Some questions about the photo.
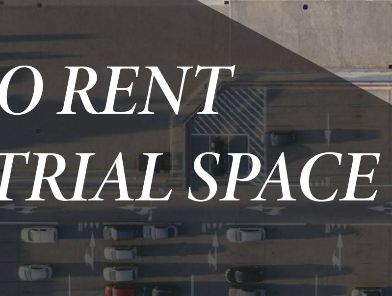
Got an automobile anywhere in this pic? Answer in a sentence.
Yes, the picture does show an automobile.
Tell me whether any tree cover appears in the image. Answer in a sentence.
No, the scene doesn't show any tree cover.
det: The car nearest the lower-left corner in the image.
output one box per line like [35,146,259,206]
[19,263,53,281]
